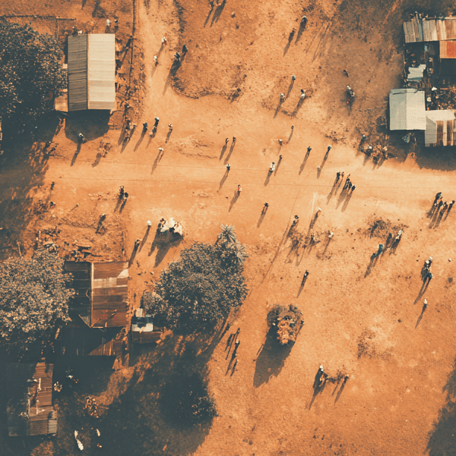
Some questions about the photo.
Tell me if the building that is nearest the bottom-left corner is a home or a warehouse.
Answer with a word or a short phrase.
home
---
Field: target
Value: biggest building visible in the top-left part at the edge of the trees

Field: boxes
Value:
[66,29,118,110]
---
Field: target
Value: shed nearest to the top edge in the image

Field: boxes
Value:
[404,15,456,46]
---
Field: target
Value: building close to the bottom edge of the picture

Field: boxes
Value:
[5,363,57,439]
